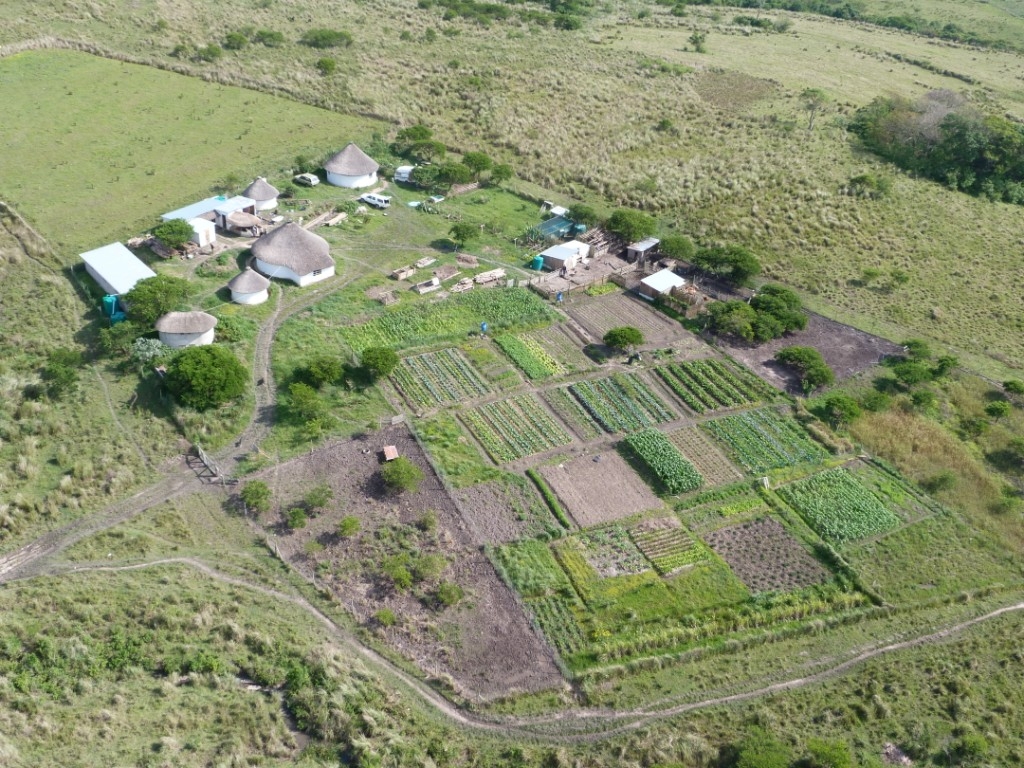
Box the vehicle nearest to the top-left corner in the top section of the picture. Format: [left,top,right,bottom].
[292,172,320,187]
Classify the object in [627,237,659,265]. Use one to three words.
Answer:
shed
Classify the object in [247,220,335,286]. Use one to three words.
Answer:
house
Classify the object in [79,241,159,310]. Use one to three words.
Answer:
shed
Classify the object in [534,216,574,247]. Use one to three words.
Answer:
house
